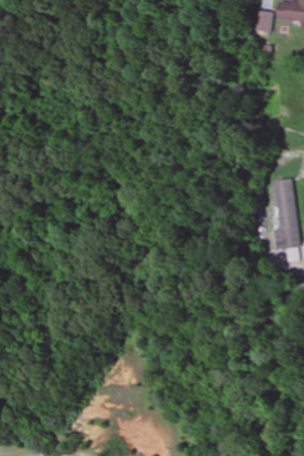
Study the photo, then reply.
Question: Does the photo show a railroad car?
No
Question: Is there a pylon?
No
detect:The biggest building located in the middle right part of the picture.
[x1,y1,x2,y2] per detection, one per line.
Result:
[272,178,298,246]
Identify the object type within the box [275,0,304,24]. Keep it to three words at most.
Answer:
house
